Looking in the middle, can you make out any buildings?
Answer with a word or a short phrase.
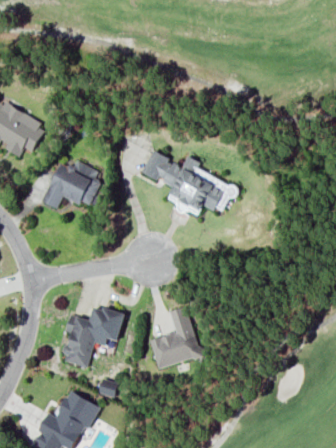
Yes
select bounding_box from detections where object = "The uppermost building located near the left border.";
[0,101,46,158]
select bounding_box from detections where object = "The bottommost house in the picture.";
[38,394,98,448]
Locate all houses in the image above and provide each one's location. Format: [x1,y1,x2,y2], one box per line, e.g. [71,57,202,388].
[0,101,46,158]
[142,150,240,216]
[152,308,205,367]
[38,394,98,448]
[43,158,104,209]
[61,306,126,366]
